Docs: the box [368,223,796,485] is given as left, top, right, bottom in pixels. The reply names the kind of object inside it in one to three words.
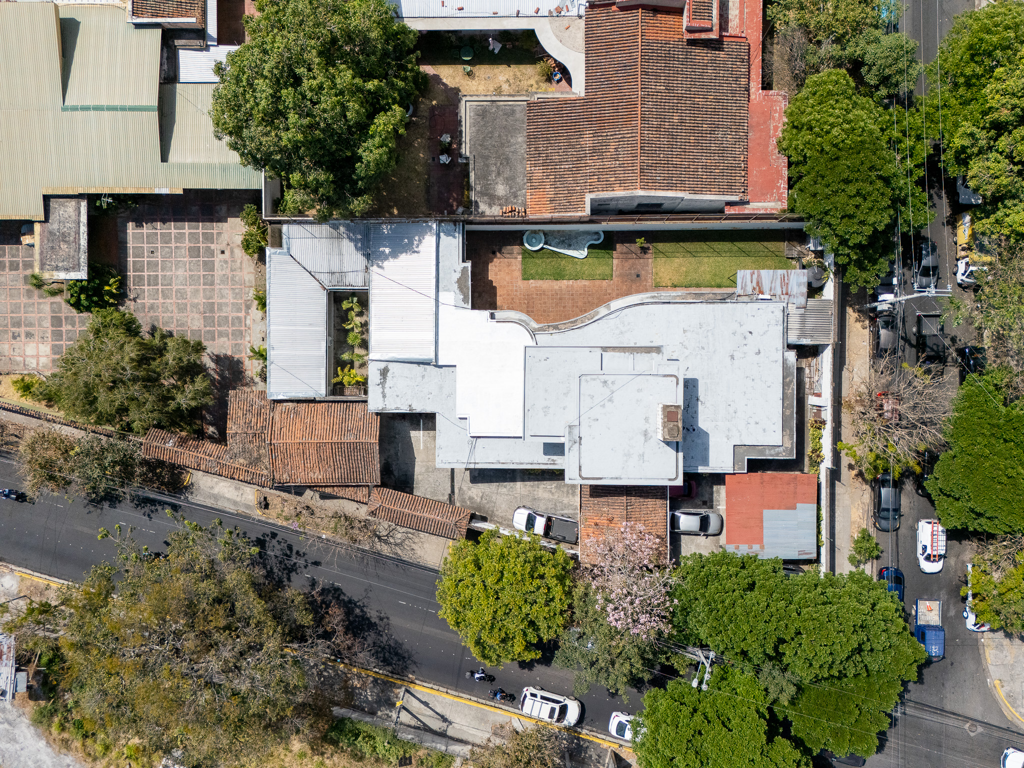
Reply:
house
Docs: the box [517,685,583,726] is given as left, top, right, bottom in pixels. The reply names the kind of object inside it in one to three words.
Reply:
car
